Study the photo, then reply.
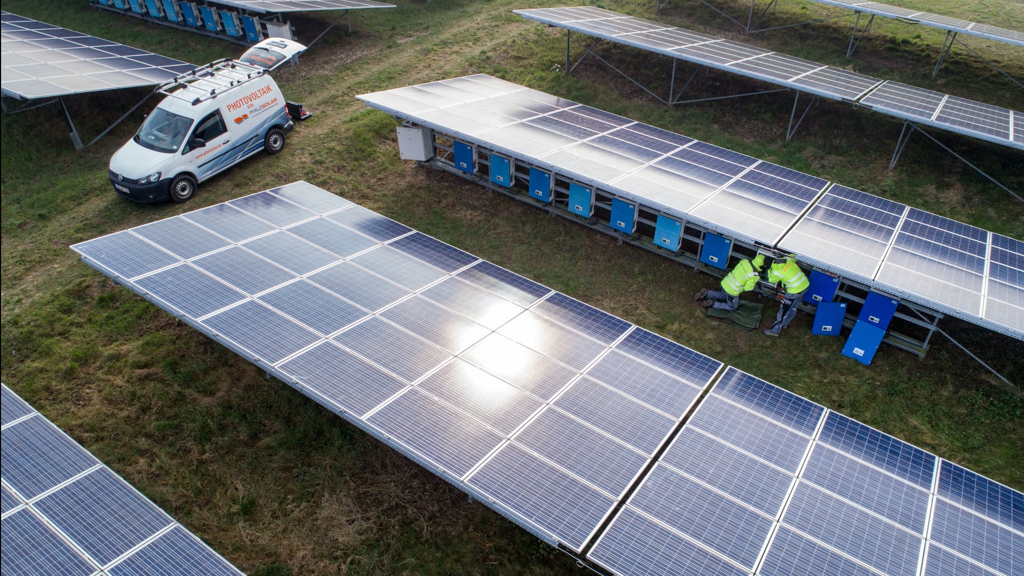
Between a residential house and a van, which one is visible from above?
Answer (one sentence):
The one in the frame is a van.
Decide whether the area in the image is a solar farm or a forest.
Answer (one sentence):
It's a solar farm.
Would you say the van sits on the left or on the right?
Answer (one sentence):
The van is on the left side of the image.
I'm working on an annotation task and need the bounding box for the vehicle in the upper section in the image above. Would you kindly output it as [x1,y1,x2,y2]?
[108,38,308,208]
